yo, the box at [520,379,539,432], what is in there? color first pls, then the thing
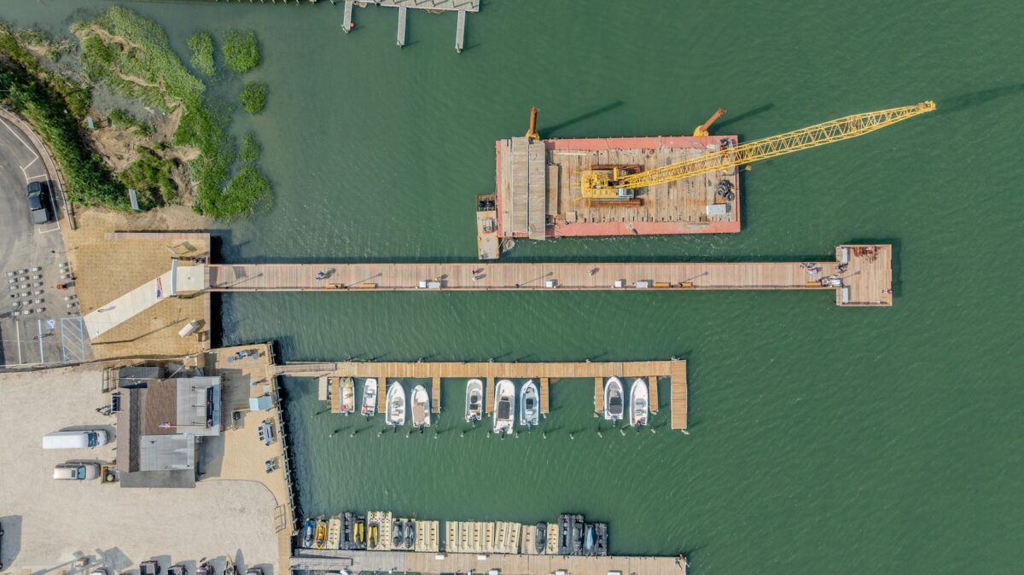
white boat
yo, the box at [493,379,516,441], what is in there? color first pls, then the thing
white boat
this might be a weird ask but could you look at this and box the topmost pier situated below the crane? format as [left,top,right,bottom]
[206,245,892,306]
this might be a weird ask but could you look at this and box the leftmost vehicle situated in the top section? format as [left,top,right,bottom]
[25,177,54,229]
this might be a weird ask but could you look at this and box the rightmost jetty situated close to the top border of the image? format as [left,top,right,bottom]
[343,0,479,50]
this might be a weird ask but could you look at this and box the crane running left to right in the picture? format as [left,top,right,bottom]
[576,100,935,210]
